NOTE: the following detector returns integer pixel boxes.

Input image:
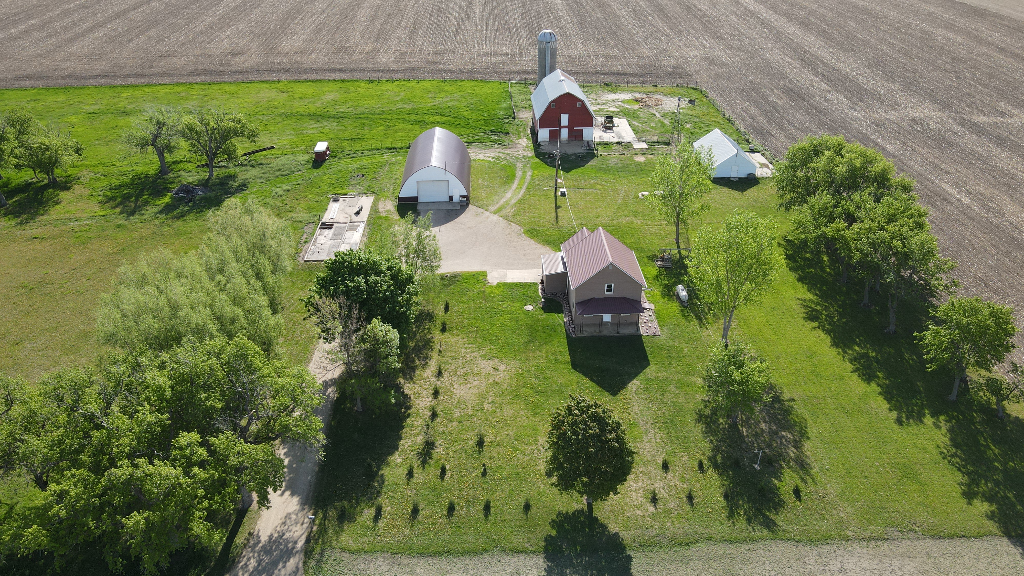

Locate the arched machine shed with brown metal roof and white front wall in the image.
[397,126,472,203]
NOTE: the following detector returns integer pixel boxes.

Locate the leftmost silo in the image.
[538,31,559,83]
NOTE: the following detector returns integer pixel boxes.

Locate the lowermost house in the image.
[541,226,649,336]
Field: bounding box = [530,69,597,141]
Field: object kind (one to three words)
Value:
barn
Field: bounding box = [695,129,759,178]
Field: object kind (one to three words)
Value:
shed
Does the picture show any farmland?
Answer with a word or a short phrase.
Yes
